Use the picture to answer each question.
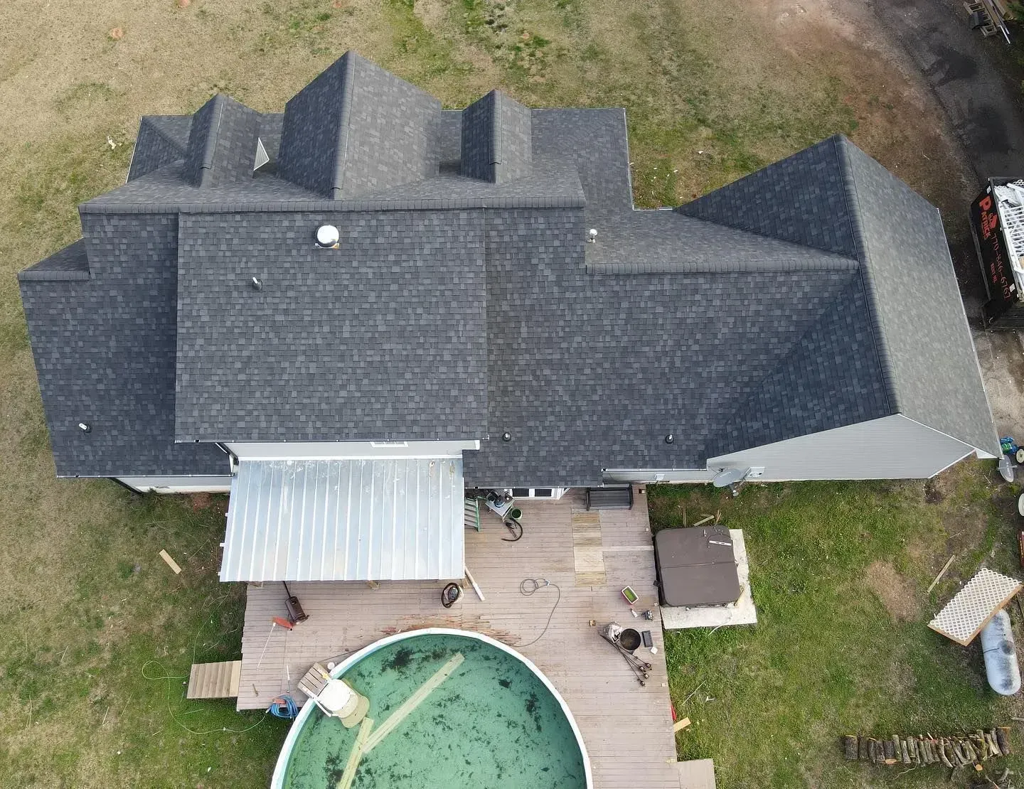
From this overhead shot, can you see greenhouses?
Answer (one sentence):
No, this view has no greenhouse in it.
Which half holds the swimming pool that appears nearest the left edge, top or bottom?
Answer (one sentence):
It is in the bottom half that the swimming pool that appears nearest the left edge appears.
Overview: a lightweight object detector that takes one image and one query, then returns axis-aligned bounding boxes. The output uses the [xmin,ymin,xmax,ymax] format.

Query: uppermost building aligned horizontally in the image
[20,51,1004,505]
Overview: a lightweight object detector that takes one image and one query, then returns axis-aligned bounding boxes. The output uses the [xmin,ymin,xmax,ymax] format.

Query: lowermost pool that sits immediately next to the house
[271,625,592,789]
